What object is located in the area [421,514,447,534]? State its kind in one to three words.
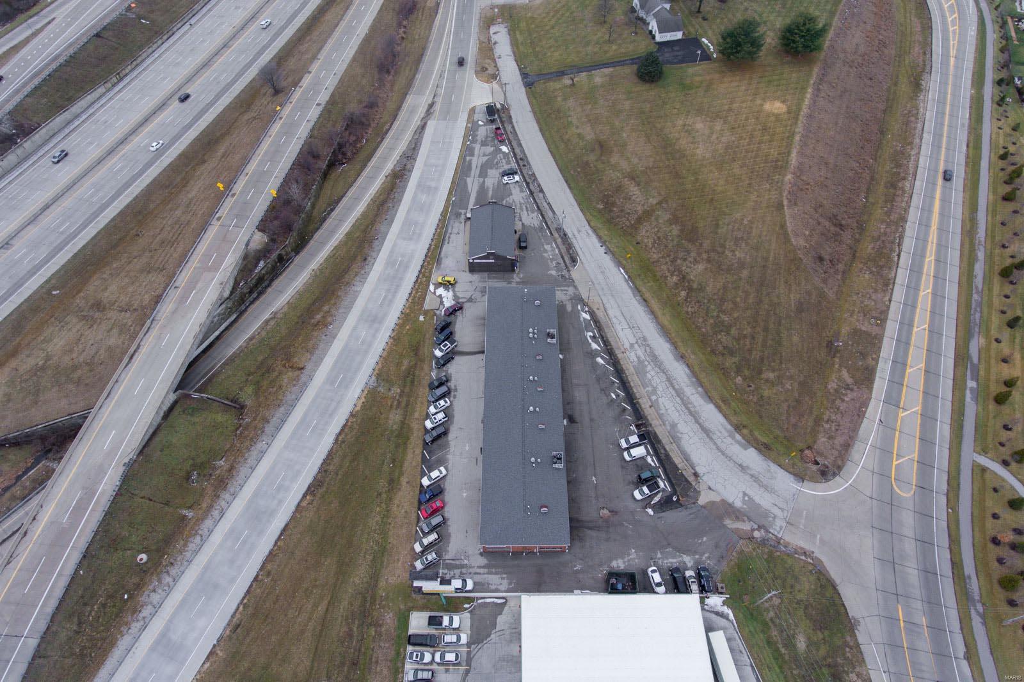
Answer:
car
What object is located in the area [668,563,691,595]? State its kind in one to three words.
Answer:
truck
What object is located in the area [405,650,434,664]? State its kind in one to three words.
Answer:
car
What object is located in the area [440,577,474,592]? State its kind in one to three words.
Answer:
vehicle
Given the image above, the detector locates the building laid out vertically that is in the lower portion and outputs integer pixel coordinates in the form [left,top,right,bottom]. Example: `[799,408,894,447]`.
[479,284,570,552]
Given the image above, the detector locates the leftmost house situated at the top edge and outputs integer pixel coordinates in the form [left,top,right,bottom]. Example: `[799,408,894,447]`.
[621,0,685,41]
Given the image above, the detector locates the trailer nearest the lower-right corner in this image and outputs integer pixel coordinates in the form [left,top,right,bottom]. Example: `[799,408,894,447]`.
[705,630,741,682]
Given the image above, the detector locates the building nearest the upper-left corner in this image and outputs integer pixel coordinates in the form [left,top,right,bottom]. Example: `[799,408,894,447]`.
[468,203,516,272]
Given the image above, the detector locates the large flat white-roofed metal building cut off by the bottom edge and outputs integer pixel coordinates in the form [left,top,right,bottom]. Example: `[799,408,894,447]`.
[521,595,712,682]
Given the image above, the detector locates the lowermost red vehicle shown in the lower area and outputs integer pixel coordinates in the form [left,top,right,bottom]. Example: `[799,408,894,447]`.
[420,499,446,518]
